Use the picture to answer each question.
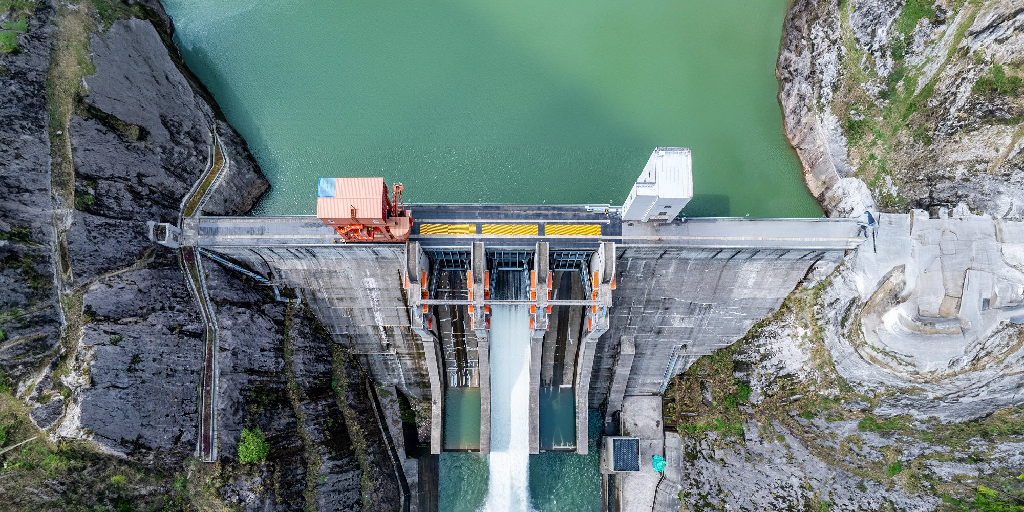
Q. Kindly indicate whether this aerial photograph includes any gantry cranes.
Yes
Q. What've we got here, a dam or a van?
dam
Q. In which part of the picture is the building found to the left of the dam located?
left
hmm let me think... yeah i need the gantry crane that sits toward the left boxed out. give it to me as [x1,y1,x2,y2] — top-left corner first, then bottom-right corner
[317,176,419,245]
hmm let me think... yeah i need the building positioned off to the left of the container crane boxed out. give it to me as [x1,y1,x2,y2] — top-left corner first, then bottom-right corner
[137,215,190,245]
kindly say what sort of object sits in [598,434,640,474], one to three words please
building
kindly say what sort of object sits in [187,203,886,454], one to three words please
dam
